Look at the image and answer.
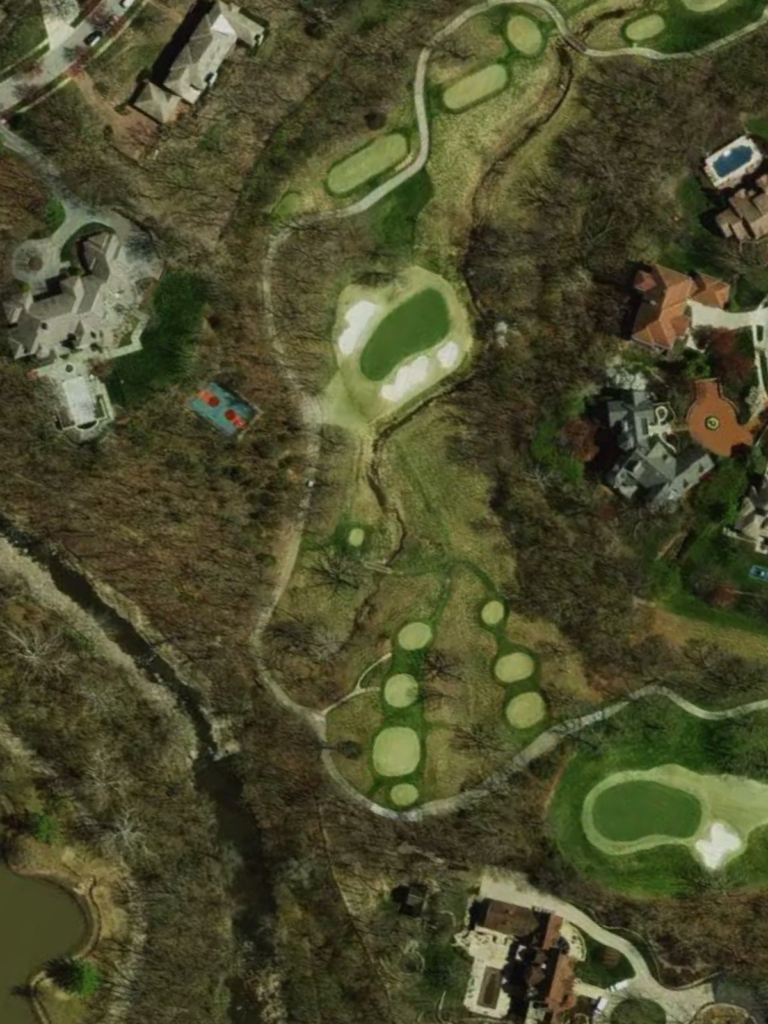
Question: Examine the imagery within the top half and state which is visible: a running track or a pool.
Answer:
pool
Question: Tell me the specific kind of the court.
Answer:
basketball court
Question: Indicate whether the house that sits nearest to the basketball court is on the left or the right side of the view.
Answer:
left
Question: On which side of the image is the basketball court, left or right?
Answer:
left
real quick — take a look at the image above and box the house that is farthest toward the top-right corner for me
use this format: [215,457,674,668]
[715,178,768,244]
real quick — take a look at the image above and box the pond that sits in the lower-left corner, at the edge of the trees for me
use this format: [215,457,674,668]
[0,863,87,1024]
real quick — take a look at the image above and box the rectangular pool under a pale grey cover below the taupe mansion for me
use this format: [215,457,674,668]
[61,376,97,427]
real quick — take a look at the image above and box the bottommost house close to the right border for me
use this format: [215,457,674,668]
[729,475,768,548]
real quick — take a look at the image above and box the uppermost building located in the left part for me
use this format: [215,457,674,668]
[129,0,268,124]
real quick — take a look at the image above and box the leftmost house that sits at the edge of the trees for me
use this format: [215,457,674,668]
[3,230,123,361]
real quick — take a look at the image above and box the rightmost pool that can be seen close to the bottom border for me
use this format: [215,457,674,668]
[476,965,504,1011]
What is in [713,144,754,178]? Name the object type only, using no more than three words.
swimming pool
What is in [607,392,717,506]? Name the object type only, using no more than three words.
house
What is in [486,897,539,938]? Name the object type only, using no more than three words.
building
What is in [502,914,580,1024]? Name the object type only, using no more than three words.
house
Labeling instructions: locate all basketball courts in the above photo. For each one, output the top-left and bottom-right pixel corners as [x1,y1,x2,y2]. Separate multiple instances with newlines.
[192,380,258,439]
